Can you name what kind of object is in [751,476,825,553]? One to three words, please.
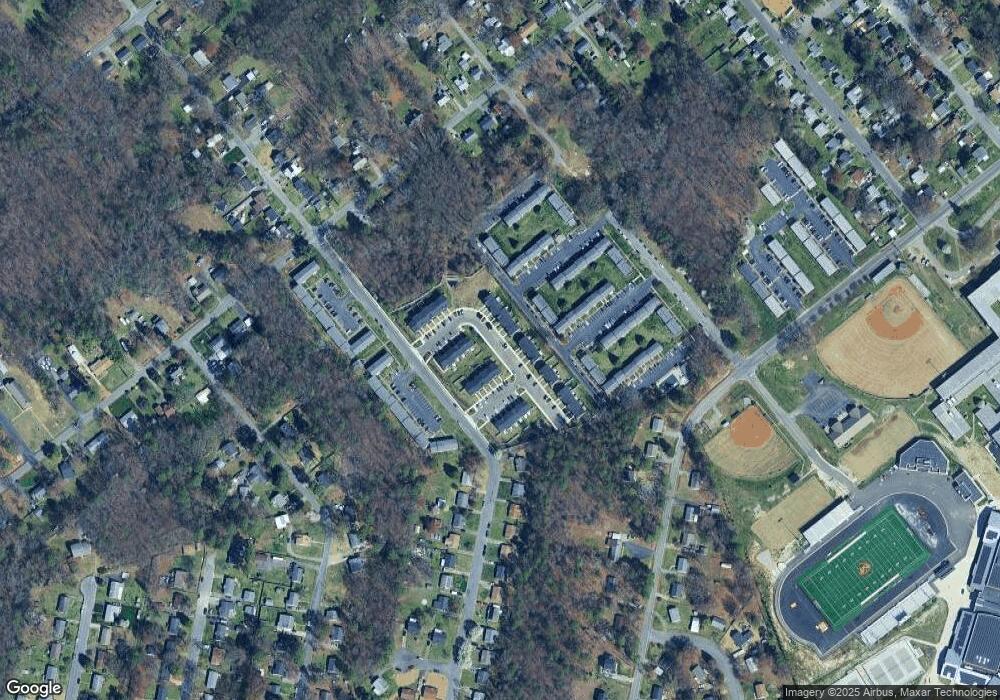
sports field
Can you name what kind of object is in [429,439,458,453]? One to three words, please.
building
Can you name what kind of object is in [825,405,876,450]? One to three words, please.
building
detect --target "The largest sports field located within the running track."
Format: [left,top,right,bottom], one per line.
[798,506,932,630]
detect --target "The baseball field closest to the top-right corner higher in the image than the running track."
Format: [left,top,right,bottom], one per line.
[816,274,971,398]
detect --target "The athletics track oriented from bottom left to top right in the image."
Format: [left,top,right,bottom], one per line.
[777,492,959,658]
